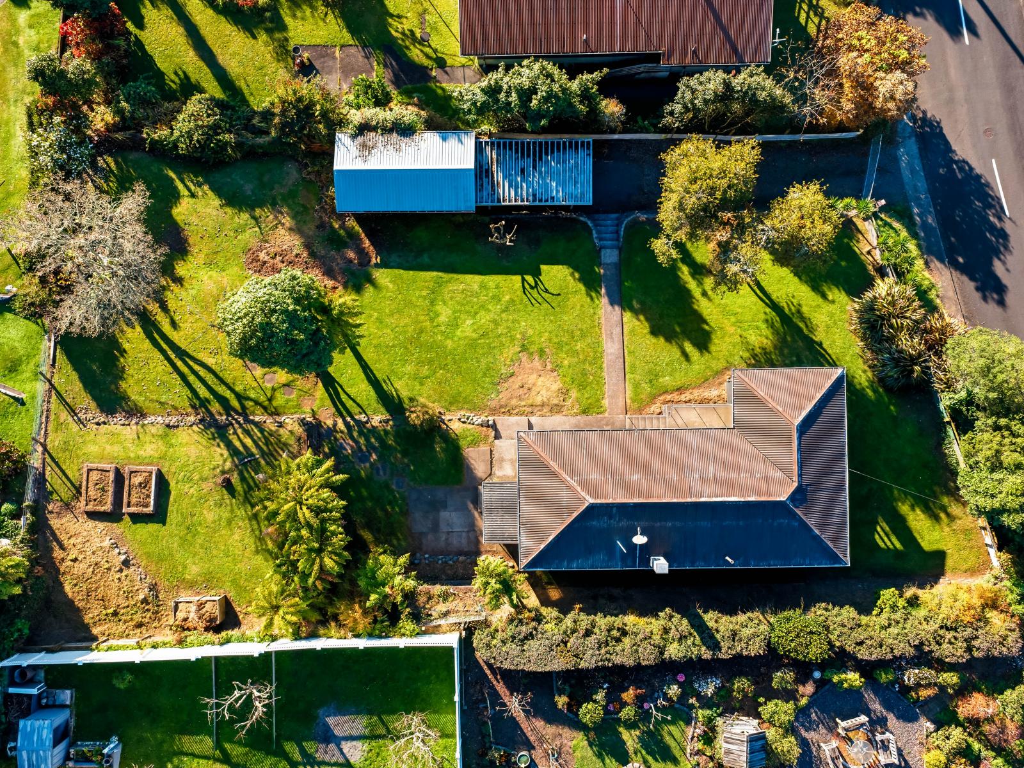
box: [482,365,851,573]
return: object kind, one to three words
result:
house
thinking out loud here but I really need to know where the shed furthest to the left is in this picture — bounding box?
[10,703,76,768]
